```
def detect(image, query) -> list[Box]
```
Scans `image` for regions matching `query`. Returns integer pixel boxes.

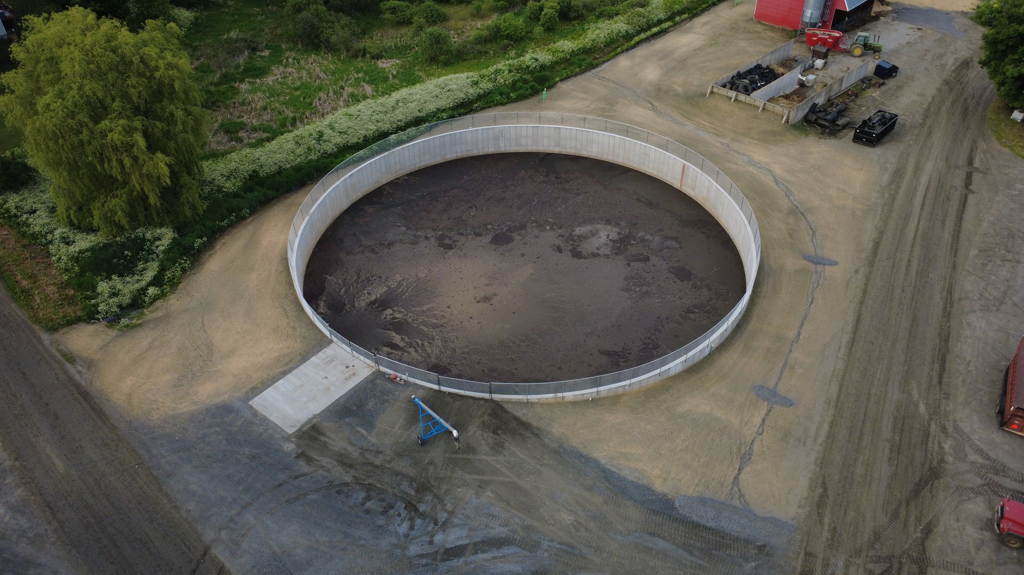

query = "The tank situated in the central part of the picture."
[293,124,757,406]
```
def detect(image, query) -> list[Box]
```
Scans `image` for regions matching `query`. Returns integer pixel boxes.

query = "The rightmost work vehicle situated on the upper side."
[849,31,887,59]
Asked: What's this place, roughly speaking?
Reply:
industrial area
